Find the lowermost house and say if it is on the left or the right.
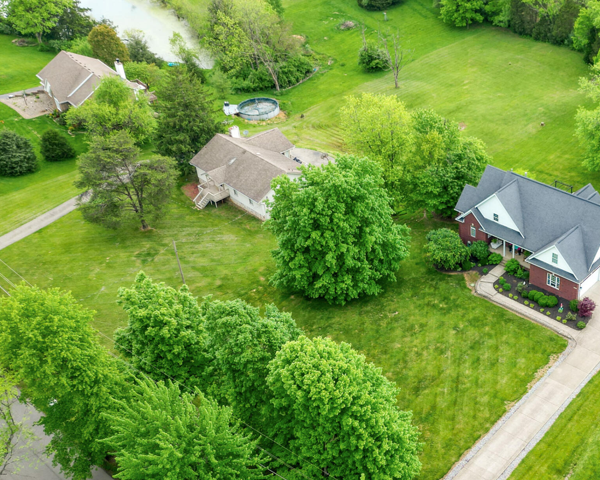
right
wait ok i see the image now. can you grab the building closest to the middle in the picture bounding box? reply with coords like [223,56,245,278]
[187,110,308,219]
